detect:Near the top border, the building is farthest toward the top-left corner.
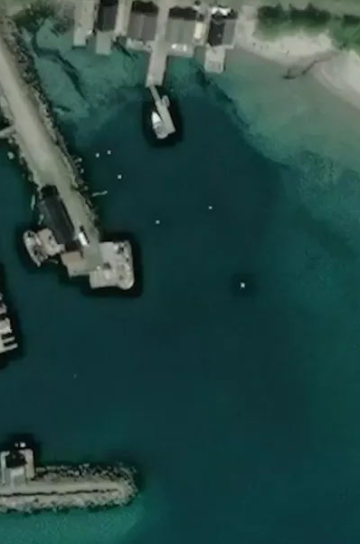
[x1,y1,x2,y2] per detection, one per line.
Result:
[98,3,118,32]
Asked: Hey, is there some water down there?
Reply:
Yes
